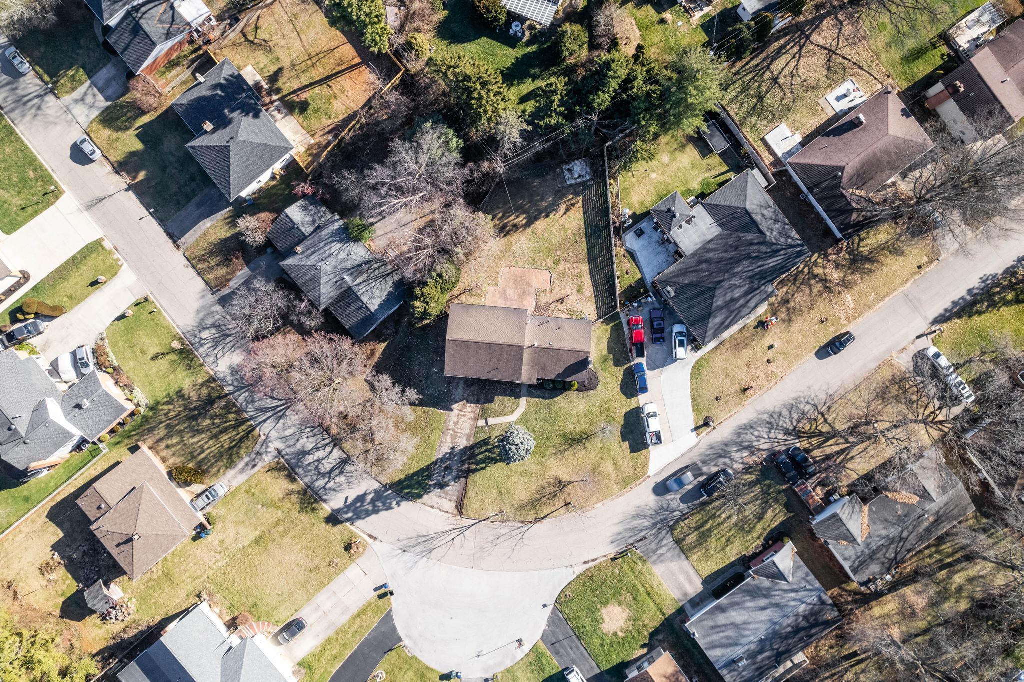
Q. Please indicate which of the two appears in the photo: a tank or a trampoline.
trampoline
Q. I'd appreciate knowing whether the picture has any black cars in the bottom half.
Yes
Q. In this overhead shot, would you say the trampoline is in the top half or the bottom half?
top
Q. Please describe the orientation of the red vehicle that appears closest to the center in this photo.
from top to bottom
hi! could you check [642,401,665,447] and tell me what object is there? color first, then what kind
white truck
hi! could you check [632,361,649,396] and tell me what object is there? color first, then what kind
blue car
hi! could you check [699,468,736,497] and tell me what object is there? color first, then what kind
black car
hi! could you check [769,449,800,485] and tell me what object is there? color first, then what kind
black car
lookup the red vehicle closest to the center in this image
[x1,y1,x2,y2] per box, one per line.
[627,316,647,359]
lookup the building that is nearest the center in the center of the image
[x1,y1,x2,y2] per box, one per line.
[444,303,595,384]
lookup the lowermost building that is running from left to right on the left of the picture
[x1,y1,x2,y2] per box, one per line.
[117,603,300,682]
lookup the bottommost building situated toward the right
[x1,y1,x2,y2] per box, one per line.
[623,640,690,682]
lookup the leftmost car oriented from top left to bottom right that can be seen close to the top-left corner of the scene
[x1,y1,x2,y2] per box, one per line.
[3,42,36,78]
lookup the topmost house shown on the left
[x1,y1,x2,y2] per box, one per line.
[85,0,212,80]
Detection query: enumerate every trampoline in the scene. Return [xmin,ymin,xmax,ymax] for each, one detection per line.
[700,120,731,154]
